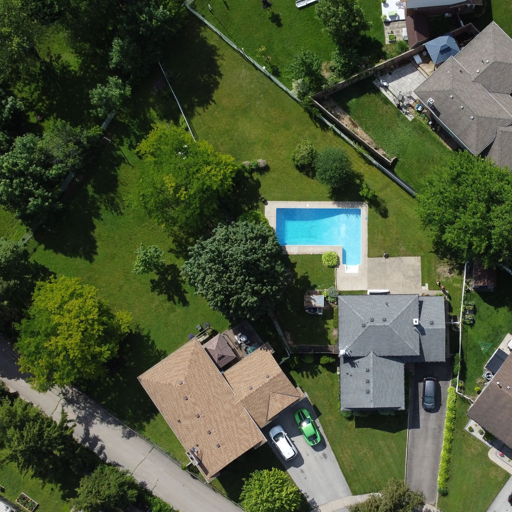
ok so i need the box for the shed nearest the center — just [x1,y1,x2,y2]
[303,294,325,308]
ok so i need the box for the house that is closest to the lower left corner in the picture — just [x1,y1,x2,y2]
[137,337,305,483]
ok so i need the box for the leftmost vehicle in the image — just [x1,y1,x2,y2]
[269,423,297,462]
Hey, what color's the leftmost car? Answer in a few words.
white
